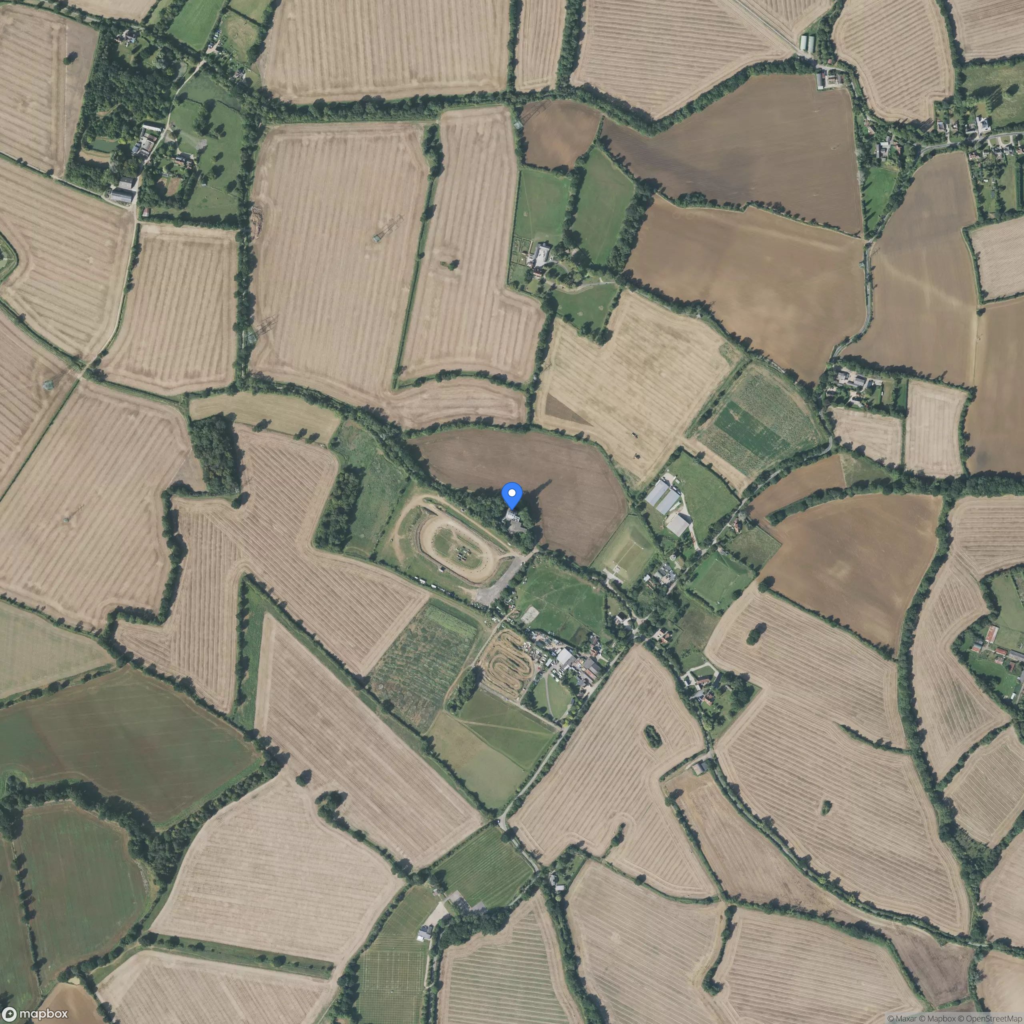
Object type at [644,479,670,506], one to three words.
barn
